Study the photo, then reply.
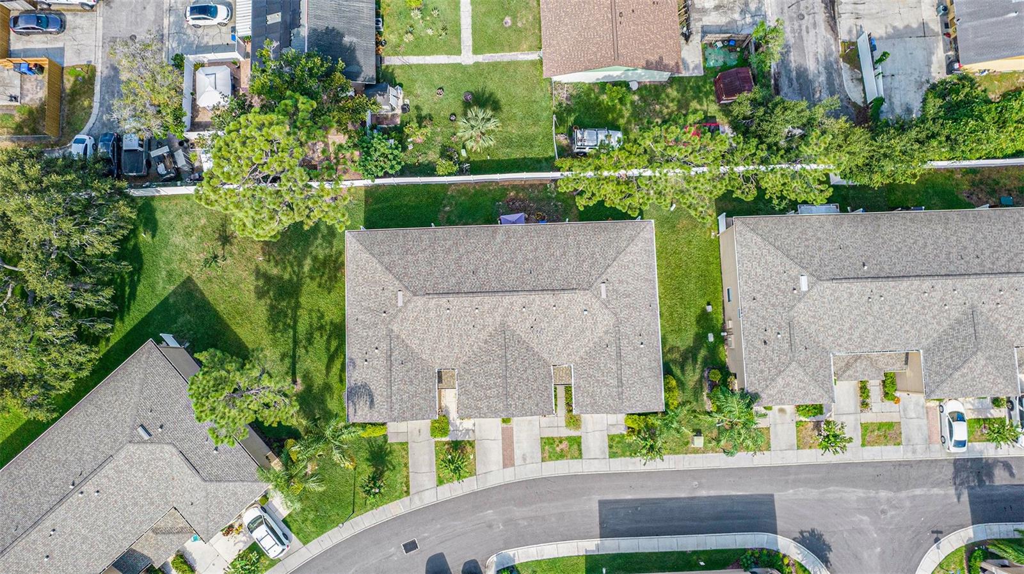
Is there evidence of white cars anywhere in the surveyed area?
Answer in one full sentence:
Yes, a white car can be made out from above.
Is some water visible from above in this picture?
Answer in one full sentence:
No, the scene doesn't show any water.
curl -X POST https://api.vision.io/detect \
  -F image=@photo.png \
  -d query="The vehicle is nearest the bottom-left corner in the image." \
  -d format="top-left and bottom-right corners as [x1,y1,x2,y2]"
[245,505,289,559]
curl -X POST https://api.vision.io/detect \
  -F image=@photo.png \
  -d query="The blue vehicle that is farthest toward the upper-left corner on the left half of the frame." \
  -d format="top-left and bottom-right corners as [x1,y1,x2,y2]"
[10,11,64,36]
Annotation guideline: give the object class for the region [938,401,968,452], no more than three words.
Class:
car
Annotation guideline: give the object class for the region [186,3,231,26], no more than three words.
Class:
car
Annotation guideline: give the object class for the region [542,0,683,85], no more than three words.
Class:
house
